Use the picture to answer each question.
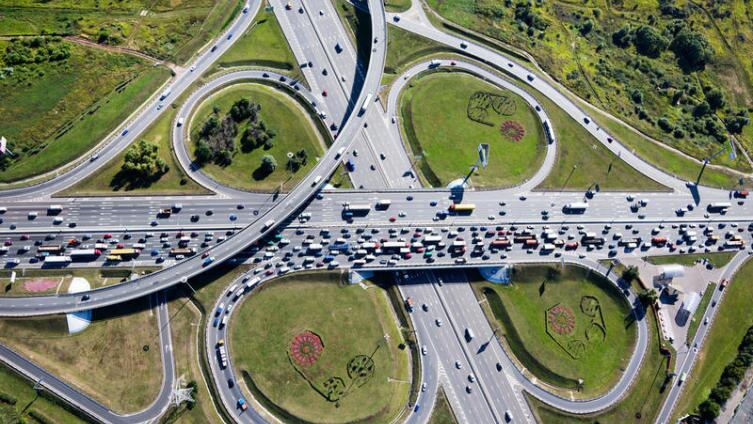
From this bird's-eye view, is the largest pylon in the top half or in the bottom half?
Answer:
bottom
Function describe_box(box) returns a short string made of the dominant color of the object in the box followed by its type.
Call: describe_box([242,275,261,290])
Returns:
white vehicle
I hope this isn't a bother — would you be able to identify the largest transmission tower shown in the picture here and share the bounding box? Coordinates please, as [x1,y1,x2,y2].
[176,373,199,411]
